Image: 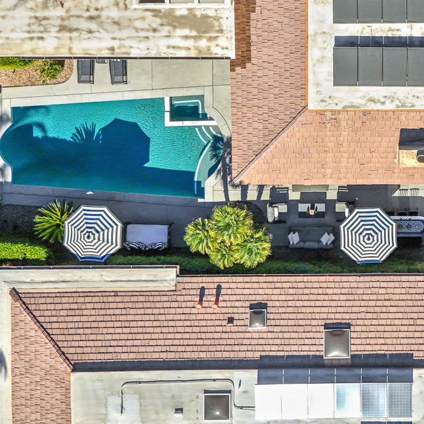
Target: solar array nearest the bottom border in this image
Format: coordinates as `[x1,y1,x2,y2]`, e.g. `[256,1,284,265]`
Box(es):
[255,383,413,421]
